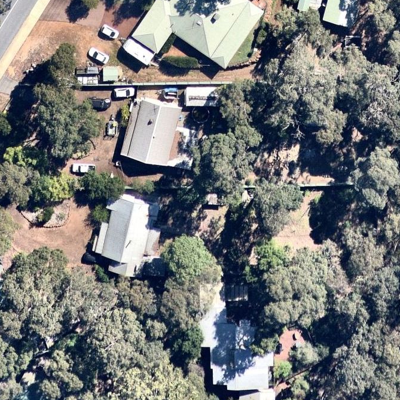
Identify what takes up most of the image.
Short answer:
trees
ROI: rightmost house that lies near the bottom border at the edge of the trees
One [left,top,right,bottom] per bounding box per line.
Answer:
[199,297,273,390]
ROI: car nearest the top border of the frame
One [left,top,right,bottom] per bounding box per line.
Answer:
[100,24,119,38]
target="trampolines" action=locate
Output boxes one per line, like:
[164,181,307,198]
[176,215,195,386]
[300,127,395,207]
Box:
[193,106,211,124]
